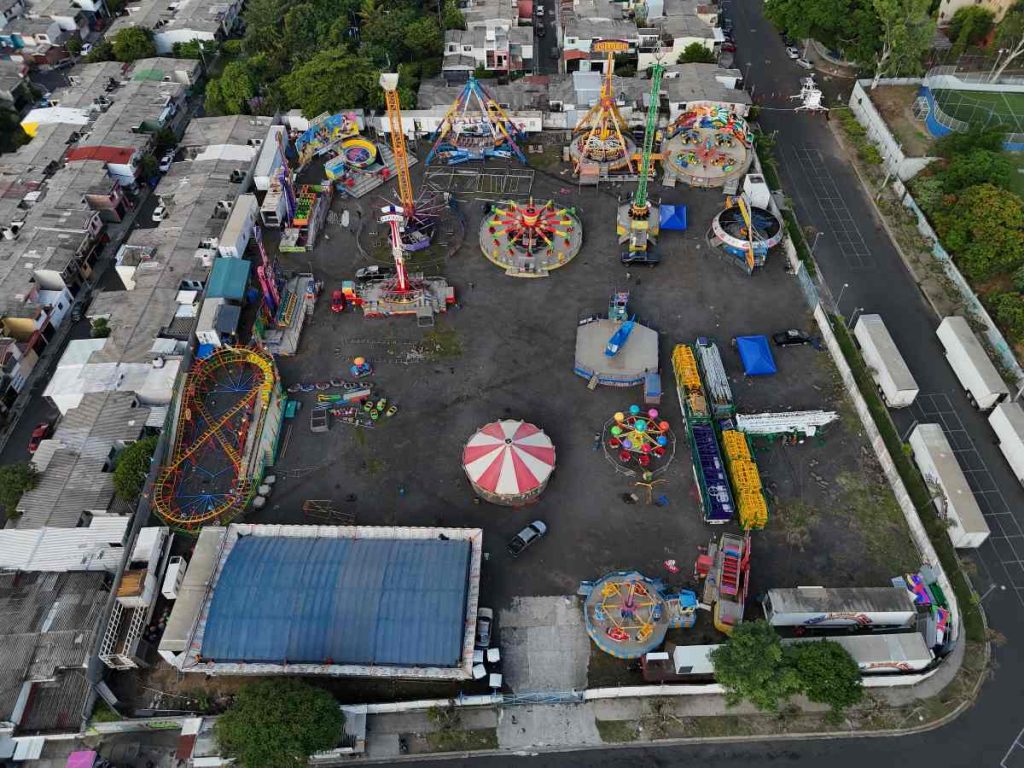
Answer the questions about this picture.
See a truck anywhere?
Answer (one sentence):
Yes, looking at the shot, I can spot a truck.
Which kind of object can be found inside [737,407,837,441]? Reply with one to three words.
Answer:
trailer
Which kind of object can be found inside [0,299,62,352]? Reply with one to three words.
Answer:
house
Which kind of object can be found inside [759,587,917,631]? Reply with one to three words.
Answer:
trailer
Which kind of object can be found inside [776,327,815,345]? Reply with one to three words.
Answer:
car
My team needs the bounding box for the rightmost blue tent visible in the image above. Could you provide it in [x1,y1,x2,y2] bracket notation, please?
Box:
[733,335,776,387]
